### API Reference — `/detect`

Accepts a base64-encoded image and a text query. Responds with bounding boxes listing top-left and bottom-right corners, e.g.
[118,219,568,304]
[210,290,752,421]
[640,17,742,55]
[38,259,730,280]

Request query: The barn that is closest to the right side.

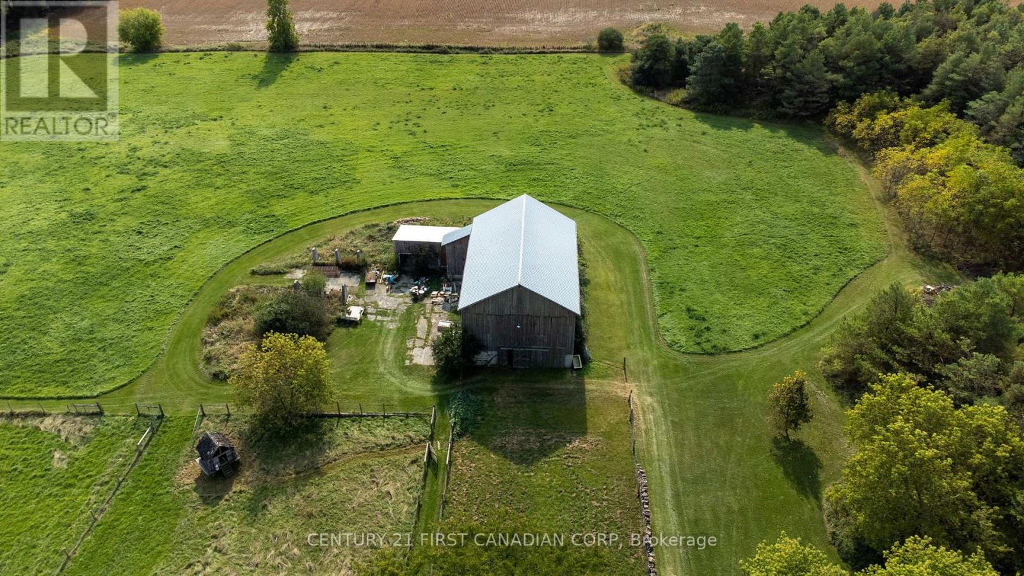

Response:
[456,193,580,370]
